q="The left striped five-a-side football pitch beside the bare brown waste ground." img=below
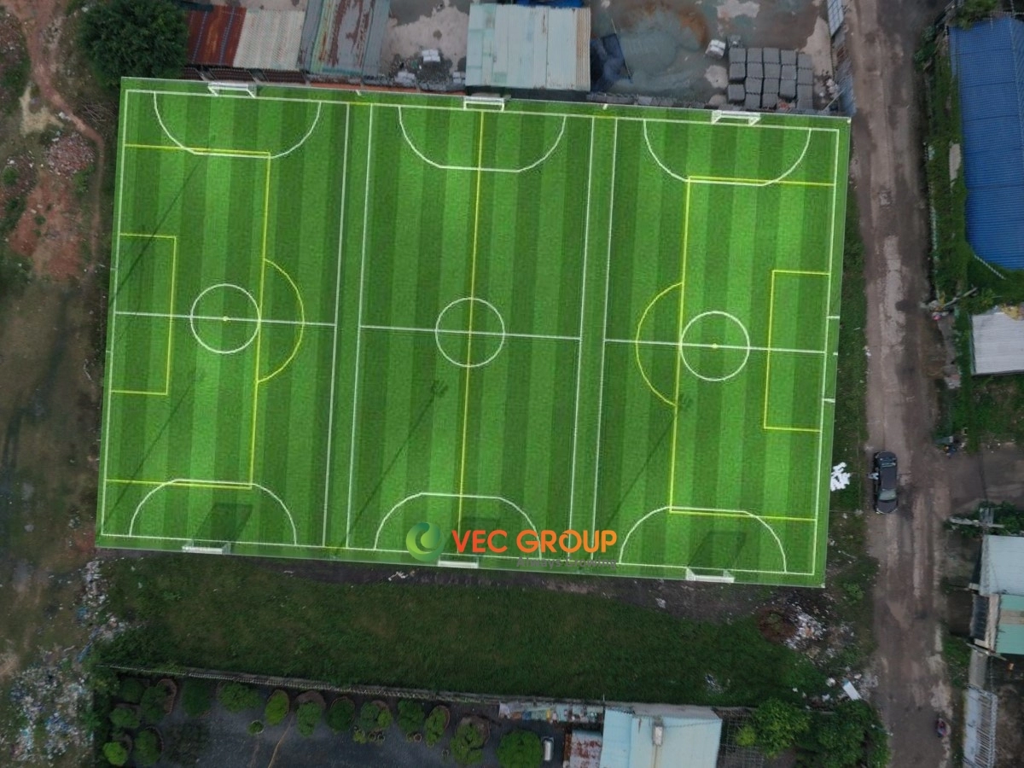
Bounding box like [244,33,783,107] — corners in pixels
[96,77,360,560]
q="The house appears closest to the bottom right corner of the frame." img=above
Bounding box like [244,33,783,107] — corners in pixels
[960,589,1024,653]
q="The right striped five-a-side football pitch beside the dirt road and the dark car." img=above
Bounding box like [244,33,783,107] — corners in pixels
[580,104,851,587]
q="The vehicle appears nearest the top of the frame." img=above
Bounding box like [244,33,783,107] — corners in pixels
[870,452,904,512]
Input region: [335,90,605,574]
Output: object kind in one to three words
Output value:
soccer field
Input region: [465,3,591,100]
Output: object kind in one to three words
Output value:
shed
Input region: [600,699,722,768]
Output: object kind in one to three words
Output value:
house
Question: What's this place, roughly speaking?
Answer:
sports ground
